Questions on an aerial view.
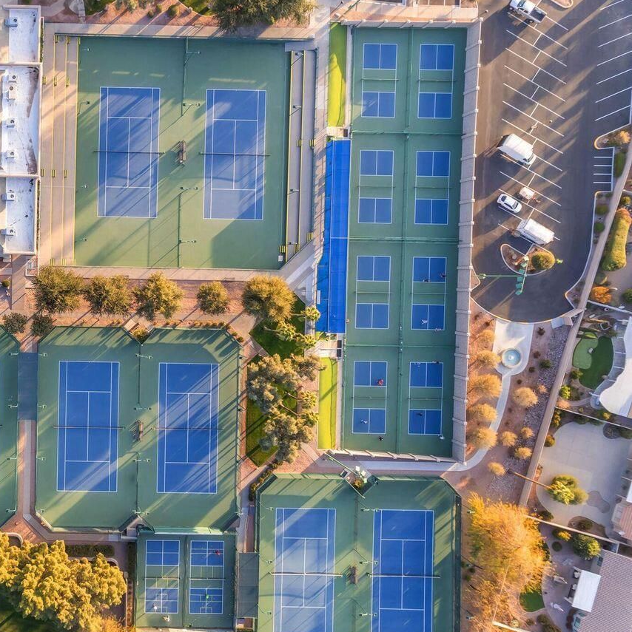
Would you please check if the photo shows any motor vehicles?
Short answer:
Yes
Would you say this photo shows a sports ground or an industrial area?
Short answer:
sports ground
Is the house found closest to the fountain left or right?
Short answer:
right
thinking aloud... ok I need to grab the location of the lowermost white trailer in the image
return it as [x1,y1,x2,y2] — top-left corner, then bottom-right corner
[509,218,553,244]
